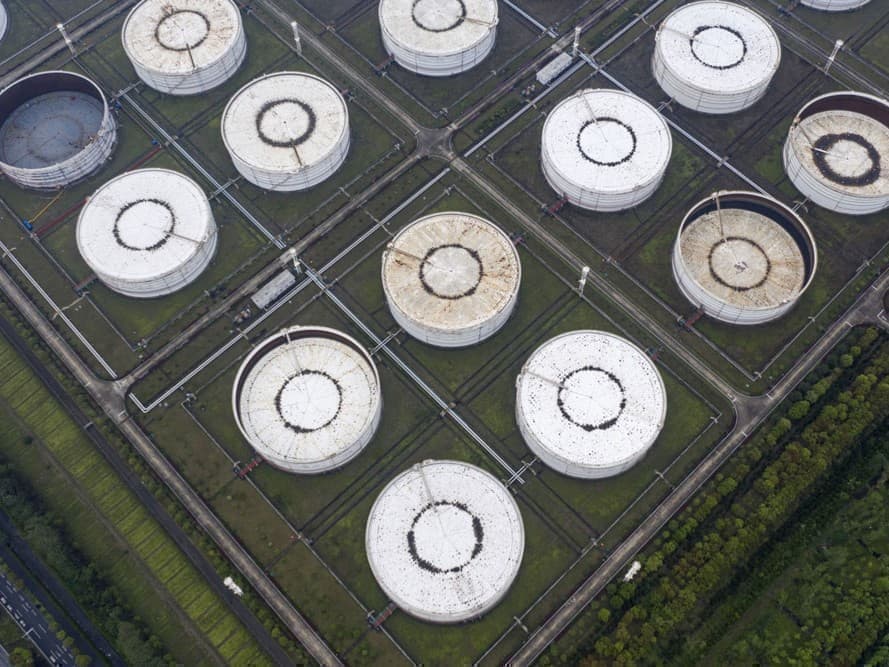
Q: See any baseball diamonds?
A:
No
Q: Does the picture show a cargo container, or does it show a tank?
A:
tank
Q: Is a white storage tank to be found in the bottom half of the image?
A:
Yes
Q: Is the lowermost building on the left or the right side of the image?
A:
left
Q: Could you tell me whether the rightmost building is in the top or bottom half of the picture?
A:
top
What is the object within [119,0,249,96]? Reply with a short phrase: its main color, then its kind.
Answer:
white storage tank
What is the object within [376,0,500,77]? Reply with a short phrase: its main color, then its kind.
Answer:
white storage tank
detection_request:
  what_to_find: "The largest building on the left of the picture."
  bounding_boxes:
[250,269,297,310]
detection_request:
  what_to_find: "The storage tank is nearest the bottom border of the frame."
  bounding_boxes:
[364,457,527,626]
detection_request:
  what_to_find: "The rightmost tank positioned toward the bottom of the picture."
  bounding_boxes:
[512,327,668,481]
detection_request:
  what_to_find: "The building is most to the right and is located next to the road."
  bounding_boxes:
[535,51,575,87]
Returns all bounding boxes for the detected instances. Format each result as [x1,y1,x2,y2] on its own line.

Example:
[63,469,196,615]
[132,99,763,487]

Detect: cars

[12,611,20,620]
[18,618,26,627]
[0,596,7,604]
[48,654,56,664]
[5,604,14,612]
[104,650,112,659]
